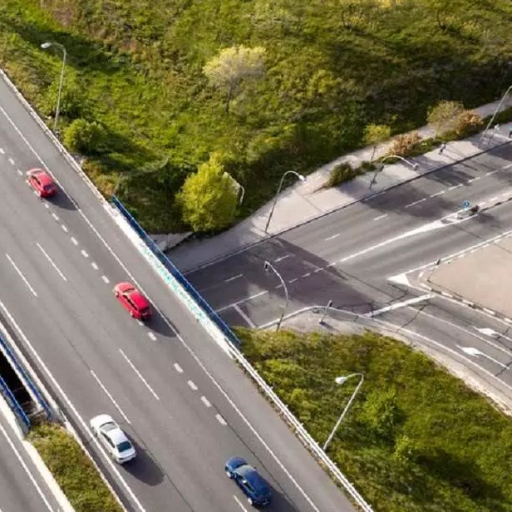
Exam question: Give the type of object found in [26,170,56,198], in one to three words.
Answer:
car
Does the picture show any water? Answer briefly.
No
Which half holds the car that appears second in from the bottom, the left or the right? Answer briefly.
left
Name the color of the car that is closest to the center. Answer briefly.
red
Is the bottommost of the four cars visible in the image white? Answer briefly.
No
